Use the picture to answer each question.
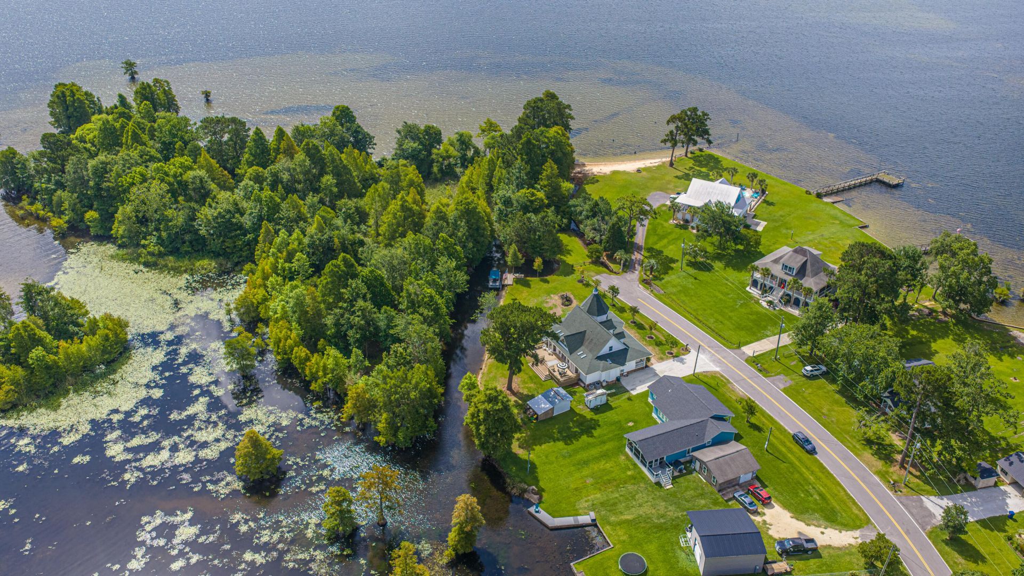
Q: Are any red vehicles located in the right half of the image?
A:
Yes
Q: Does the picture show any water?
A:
Yes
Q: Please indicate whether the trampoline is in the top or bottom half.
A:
bottom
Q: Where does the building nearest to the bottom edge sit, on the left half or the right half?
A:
right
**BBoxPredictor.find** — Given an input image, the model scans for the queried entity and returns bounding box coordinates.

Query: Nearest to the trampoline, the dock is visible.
[528,502,597,532]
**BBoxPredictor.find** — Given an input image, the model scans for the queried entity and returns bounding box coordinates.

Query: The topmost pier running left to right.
[812,169,907,195]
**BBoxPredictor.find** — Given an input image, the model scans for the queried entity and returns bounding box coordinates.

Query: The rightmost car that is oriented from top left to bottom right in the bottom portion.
[792,433,818,456]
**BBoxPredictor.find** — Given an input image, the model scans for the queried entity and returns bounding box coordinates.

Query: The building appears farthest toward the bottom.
[686,508,766,572]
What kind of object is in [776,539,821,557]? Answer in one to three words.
vehicle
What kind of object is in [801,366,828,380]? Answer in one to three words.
car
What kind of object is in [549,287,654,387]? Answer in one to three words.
building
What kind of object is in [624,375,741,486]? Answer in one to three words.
house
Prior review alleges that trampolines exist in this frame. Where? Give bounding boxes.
[620,552,648,575]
